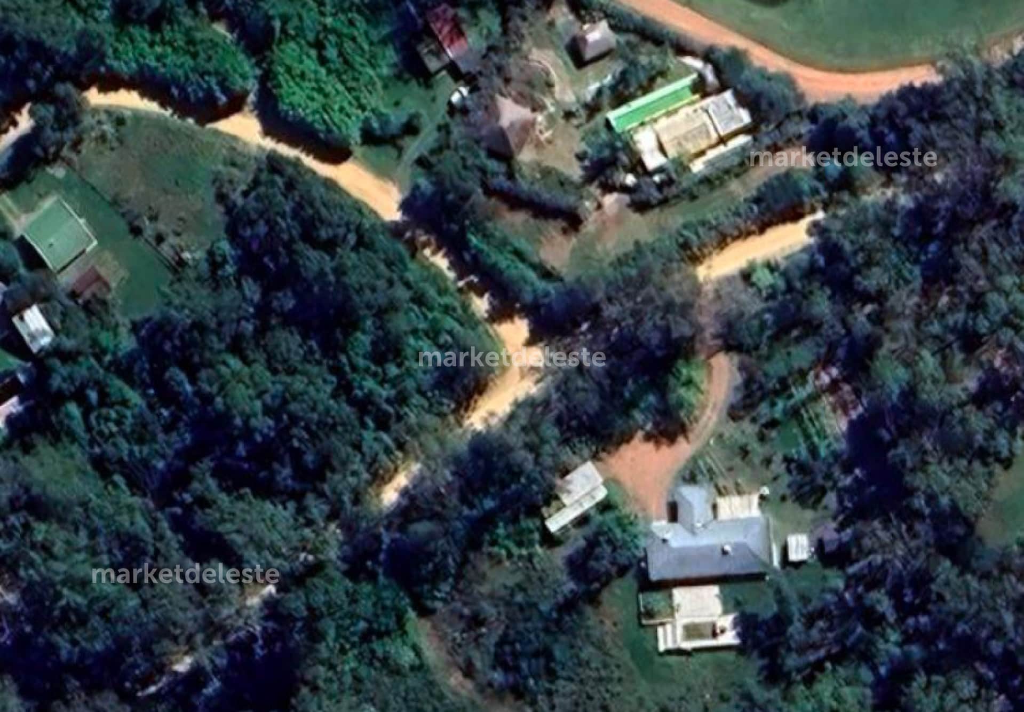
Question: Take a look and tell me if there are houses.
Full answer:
Yes, there's a house down there.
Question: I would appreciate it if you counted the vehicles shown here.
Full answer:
I count 1 vehicle.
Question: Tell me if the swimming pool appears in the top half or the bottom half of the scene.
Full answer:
It is in the bottom half that the swimming pool appears.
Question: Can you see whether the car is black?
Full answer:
No, the car is actually white.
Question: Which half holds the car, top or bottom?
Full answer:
The car sits in the top half of the picture.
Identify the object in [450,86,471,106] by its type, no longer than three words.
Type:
car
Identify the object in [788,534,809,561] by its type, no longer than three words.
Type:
shed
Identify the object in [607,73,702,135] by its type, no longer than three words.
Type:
building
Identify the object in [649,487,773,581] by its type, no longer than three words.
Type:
house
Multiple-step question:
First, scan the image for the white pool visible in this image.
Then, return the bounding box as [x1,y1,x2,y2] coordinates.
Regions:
[677,613,741,650]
